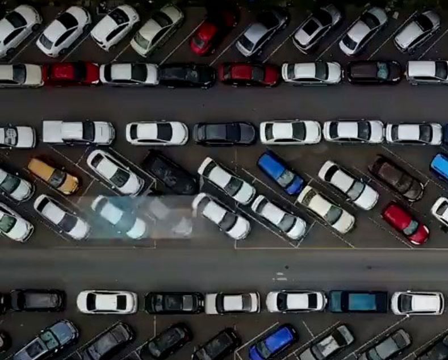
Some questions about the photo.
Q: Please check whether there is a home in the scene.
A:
No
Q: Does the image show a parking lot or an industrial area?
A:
parking lot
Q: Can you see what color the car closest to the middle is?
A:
white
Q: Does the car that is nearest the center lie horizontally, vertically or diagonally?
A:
diagonally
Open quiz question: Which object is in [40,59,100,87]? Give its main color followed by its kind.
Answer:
red car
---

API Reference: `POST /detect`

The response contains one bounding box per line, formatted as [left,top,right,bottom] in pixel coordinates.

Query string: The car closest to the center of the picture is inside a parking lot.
[199,159,256,206]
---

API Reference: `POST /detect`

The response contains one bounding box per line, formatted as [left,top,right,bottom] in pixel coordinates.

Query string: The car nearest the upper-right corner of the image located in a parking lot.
[394,9,442,54]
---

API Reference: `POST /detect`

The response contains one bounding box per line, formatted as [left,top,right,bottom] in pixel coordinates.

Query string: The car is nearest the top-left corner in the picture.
[0,6,43,59]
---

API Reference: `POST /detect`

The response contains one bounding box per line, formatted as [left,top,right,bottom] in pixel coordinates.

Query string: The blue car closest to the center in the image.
[254,149,302,196]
